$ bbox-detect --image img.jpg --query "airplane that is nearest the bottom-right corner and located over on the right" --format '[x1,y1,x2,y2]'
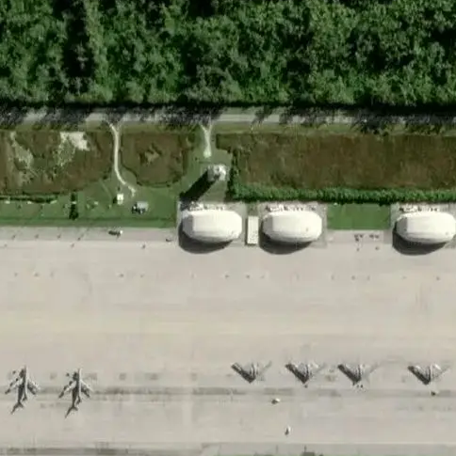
[410,363,449,382]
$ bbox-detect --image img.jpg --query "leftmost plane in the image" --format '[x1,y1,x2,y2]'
[10,367,43,399]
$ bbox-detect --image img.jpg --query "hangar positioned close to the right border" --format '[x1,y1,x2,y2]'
[395,214,455,245]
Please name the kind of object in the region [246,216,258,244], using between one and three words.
building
